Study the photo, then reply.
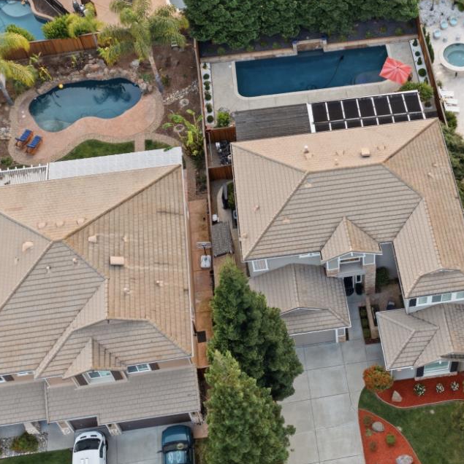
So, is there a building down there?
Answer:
Yes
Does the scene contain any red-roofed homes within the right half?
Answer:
No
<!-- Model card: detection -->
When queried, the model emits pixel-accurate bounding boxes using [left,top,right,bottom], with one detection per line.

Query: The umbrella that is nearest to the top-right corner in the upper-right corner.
[376,52,419,90]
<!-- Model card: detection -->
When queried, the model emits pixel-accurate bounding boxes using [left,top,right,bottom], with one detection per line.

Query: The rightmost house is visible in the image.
[231,118,464,384]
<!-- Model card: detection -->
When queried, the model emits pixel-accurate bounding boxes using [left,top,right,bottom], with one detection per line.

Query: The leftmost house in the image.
[0,165,201,433]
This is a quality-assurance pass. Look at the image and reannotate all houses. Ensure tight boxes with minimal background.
[0,165,201,433]
[231,118,464,384]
